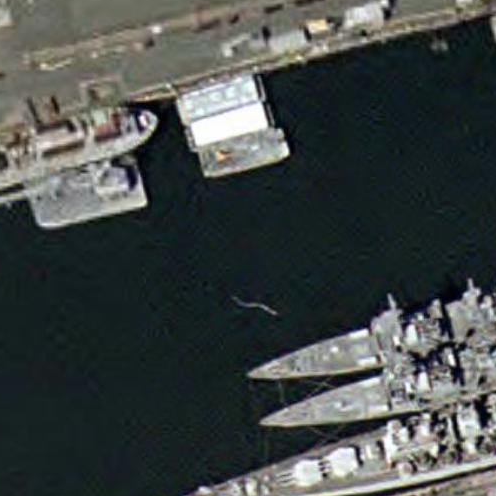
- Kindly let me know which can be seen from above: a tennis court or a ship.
ship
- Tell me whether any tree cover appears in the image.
No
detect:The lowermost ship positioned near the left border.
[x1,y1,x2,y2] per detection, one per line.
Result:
[0,159,146,230]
